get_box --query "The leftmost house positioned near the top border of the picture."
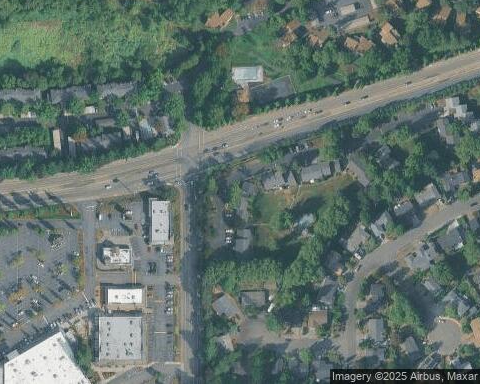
[203,4,236,27]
